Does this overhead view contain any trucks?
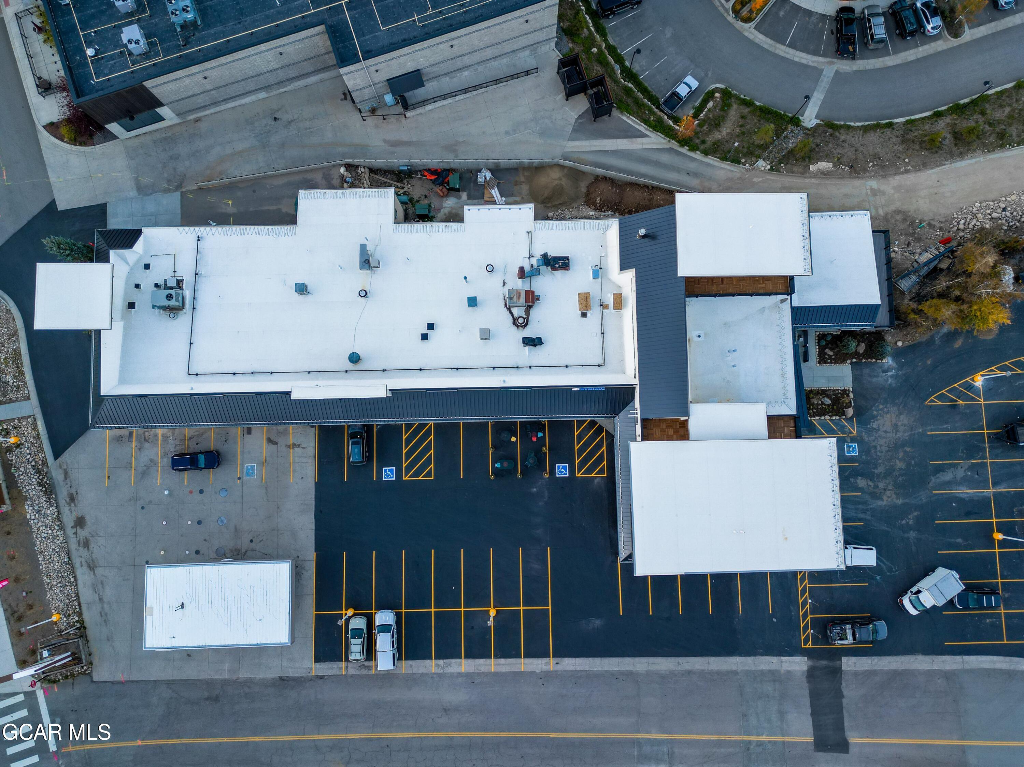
Yes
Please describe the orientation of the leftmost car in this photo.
horizontally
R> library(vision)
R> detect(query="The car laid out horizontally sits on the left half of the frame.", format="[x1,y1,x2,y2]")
[169,447,225,473]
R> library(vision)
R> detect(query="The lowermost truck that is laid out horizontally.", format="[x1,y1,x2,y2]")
[822,617,890,647]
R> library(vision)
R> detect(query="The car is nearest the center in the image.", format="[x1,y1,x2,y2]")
[345,425,371,468]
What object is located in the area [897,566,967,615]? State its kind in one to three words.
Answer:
truck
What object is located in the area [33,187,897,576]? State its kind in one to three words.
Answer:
building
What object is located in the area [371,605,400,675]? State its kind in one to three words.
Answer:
vehicle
